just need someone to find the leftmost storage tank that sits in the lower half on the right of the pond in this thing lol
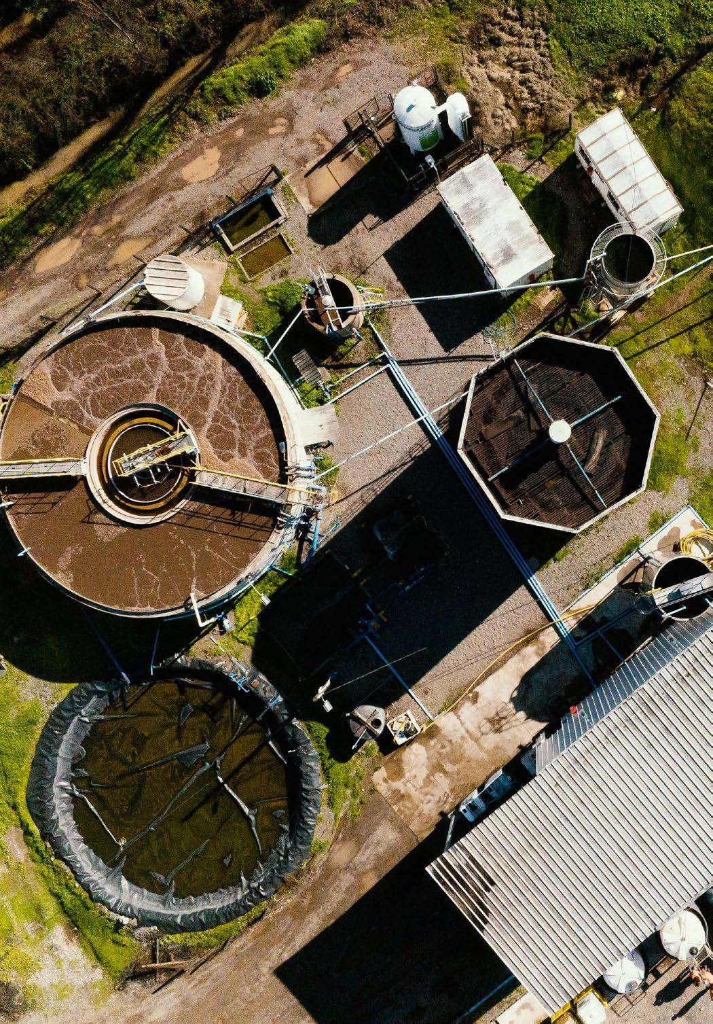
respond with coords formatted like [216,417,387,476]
[347,701,388,749]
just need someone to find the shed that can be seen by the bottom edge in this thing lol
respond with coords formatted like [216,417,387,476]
[426,631,713,1020]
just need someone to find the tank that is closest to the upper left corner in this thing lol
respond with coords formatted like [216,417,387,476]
[147,257,202,309]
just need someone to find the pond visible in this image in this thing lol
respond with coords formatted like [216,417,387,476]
[26,655,320,933]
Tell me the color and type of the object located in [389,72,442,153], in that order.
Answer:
white storage tank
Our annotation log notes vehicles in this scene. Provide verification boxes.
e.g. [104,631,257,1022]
[455,770,523,834]
[518,745,538,779]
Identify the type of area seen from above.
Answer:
industrial area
